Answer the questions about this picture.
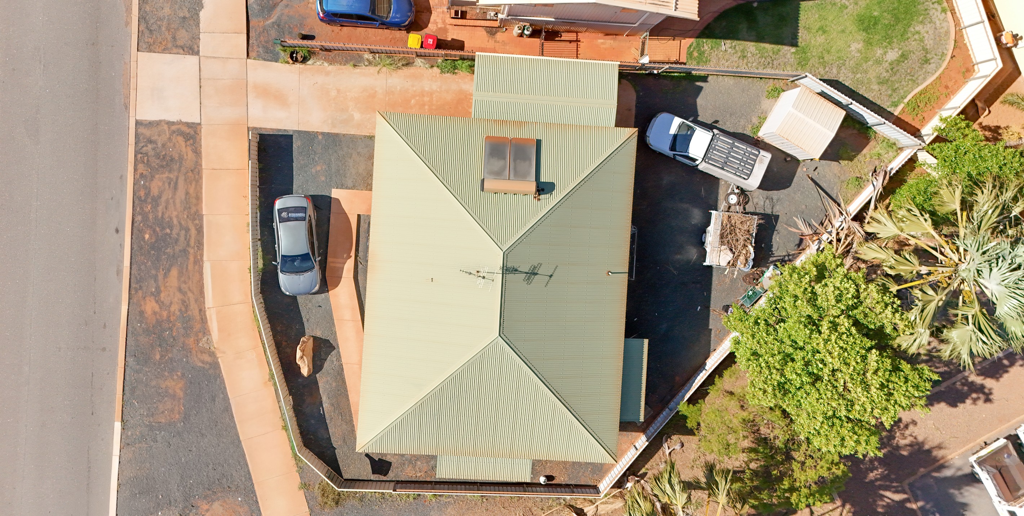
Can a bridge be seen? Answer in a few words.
No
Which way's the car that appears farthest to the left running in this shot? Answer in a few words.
up and down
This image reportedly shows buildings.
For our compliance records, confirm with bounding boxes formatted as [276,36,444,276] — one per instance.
[353,107,648,483]
[447,0,703,39]
[759,85,846,161]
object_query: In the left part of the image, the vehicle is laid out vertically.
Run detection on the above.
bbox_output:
[272,195,322,298]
